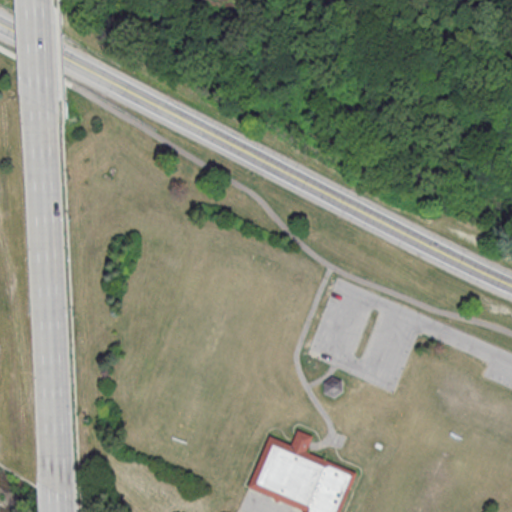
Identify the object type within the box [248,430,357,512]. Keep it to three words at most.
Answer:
building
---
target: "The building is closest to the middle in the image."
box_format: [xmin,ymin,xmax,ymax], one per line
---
[324,376,344,398]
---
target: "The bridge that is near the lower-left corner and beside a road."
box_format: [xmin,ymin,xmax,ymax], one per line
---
[36,456,80,512]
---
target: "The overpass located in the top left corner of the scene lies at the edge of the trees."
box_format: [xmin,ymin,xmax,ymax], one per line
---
[13,4,68,116]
